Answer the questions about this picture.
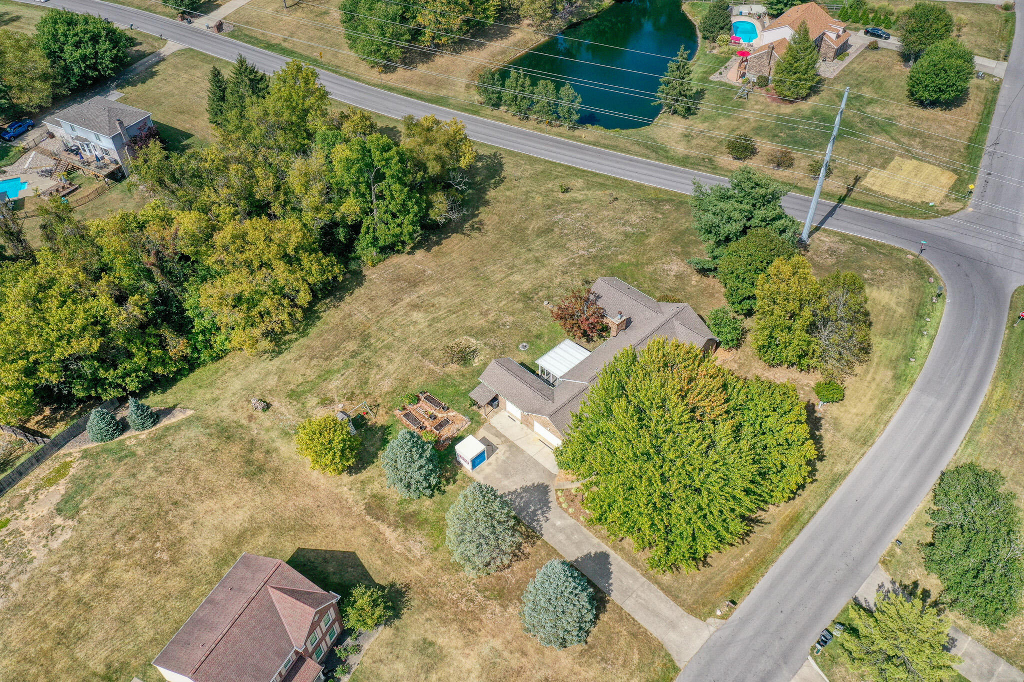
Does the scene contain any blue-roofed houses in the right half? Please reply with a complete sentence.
No, no blue-roofed house is visible in the right half.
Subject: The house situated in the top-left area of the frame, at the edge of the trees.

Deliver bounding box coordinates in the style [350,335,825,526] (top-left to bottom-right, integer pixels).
[41,96,162,187]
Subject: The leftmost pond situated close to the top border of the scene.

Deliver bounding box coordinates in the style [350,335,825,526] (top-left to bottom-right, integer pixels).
[487,0,699,130]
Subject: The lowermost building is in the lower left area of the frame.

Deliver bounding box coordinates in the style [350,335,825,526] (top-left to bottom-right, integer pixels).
[150,551,343,682]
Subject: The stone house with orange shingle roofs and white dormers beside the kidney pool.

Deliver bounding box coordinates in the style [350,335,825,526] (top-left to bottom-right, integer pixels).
[742,0,856,82]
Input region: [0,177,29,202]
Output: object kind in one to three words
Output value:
swimming pool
